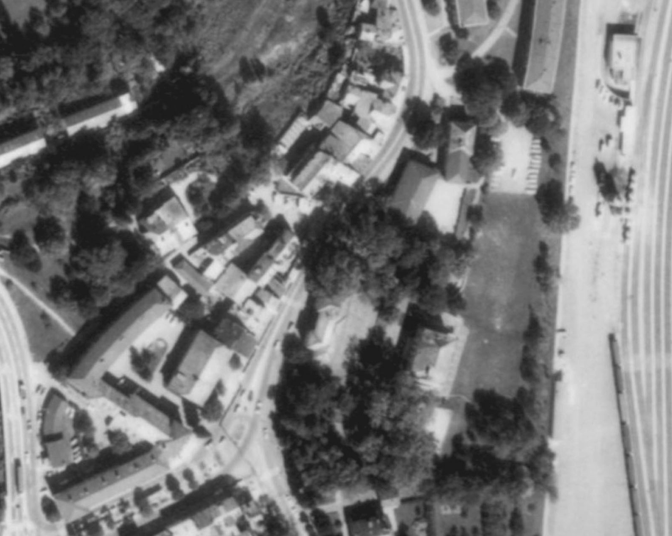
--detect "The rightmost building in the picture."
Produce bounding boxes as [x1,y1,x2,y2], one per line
[608,34,638,97]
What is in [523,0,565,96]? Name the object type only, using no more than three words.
building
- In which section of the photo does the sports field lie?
right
